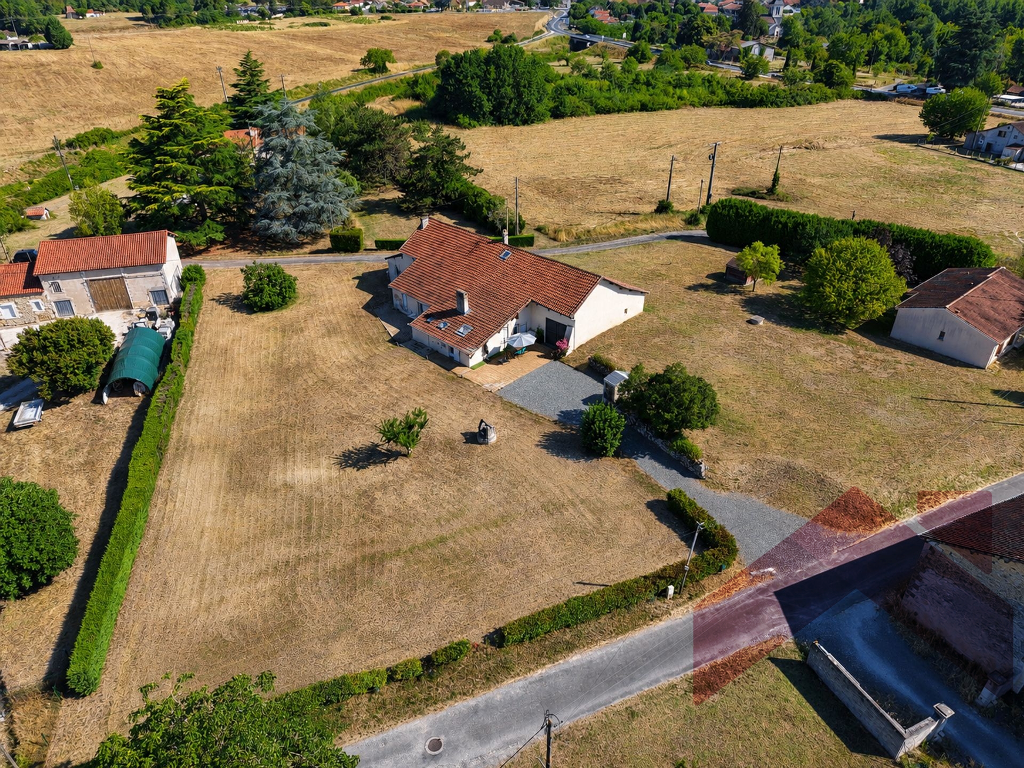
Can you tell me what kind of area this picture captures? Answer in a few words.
residential area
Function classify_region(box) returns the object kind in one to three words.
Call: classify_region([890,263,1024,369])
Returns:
house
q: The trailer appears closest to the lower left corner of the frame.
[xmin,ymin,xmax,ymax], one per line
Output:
[7,402,42,429]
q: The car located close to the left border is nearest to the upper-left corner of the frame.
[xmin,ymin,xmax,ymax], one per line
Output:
[0,245,39,266]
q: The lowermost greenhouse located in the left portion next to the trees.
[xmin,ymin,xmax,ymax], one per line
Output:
[99,331,169,404]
